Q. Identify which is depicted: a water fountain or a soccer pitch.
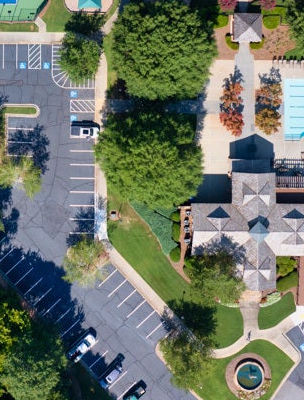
water fountain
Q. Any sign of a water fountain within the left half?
No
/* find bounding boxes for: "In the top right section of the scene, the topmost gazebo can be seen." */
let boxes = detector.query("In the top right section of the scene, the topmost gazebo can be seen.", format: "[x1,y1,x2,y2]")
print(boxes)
[230,13,262,42]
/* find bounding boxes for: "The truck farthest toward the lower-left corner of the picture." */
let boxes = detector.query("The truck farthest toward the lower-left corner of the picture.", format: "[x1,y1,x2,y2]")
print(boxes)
[69,334,95,363]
